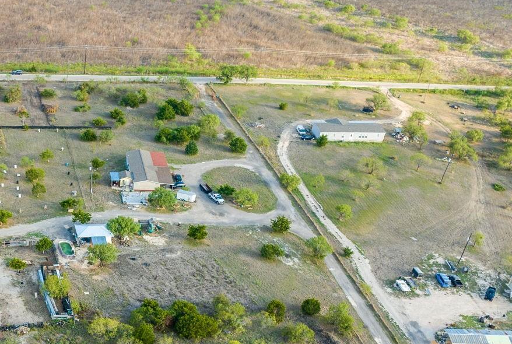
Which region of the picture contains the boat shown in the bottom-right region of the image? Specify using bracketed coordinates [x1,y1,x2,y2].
[392,278,413,292]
